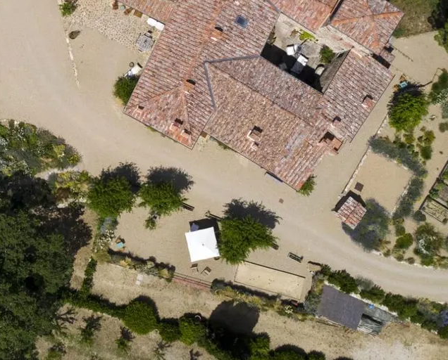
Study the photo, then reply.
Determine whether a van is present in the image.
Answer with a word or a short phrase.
No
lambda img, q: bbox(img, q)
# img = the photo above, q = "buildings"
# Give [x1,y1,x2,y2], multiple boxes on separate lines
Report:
[330,197,367,229]
[110,0,405,192]
[312,283,365,330]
